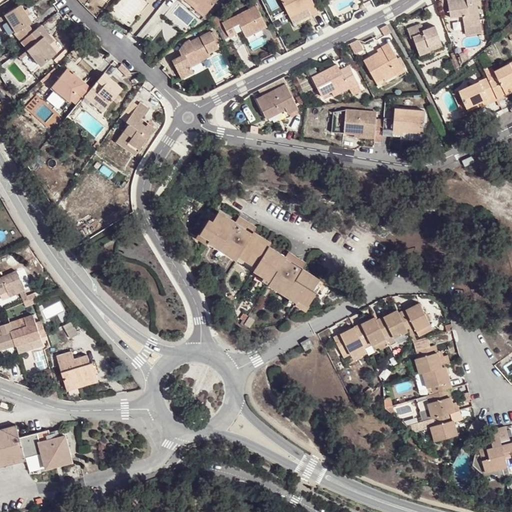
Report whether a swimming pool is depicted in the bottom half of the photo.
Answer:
Yes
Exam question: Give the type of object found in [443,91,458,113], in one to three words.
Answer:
swimming pool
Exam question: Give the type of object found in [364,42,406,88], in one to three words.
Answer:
house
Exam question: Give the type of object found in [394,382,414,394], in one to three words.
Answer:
swimming pool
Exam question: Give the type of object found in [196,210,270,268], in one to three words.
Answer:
building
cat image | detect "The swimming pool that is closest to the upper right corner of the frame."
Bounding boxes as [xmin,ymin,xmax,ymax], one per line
[462,35,482,48]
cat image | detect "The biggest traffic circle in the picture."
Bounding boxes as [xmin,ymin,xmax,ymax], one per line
[136,340,248,450]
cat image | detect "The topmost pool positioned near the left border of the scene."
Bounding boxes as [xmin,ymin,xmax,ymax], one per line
[9,62,26,82]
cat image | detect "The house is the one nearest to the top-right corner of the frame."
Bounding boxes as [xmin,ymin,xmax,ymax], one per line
[447,0,484,36]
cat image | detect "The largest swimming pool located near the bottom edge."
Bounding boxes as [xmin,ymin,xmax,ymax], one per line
[454,450,476,490]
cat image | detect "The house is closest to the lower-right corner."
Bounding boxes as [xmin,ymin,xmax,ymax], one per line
[480,427,512,475]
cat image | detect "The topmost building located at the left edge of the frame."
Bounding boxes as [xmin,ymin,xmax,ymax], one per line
[4,6,32,36]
